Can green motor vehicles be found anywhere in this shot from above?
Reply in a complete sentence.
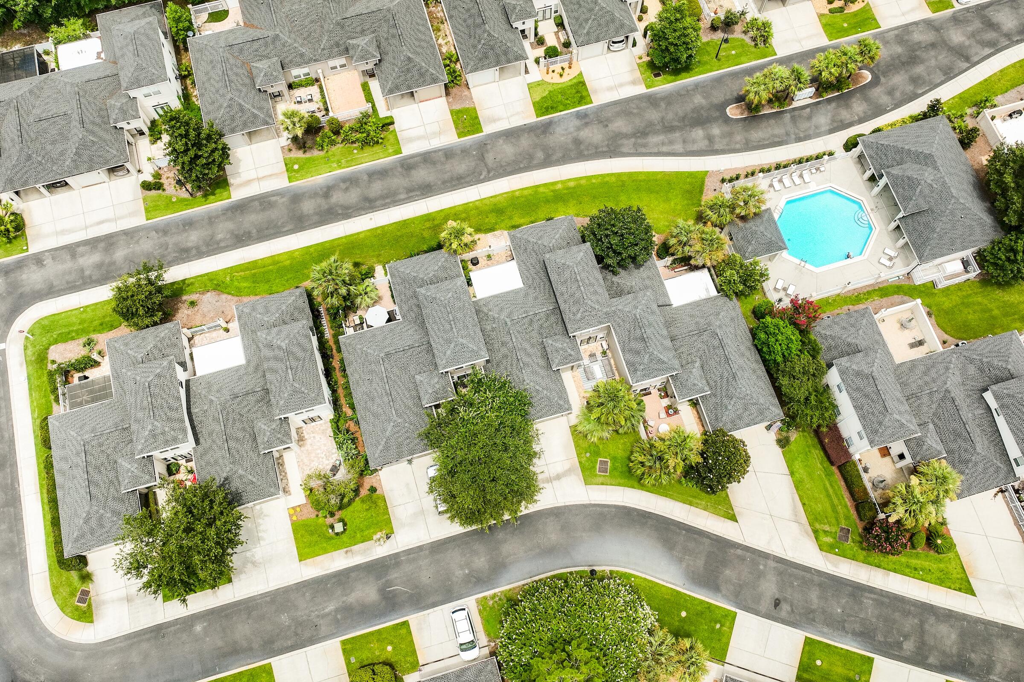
No, I can't see a single green motor vehicle in this photo.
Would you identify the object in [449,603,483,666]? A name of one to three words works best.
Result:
car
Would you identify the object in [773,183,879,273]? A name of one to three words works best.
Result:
swimming pool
